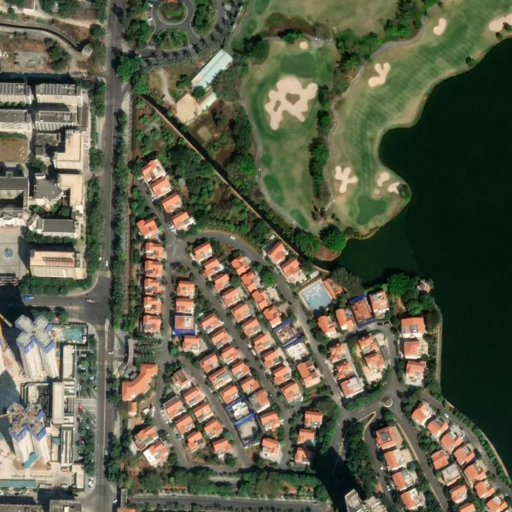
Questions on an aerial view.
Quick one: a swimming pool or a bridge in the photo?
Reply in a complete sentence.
There is a swimming pool in the scene.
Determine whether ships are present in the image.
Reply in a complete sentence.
No, there is no ship in the image.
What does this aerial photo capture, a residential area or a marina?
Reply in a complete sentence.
The area seen from above is a residential area.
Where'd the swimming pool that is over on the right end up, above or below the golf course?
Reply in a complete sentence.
In the image, the swimming pool that is over on the right sits below the golf course.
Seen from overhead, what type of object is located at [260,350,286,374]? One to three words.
house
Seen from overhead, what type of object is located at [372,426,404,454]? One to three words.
house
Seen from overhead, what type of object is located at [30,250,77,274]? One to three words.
building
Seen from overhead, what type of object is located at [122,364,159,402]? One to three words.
building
